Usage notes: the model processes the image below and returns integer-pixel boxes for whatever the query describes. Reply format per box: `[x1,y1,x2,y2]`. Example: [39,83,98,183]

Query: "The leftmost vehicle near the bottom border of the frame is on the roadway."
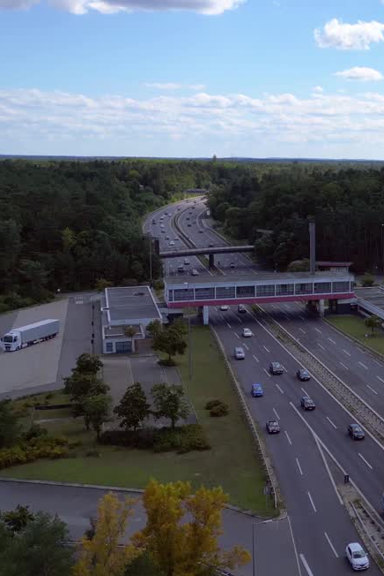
[345,542,372,569]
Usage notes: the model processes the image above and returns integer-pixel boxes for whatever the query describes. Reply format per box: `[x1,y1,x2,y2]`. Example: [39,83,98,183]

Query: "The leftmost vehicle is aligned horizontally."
[3,319,68,350]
